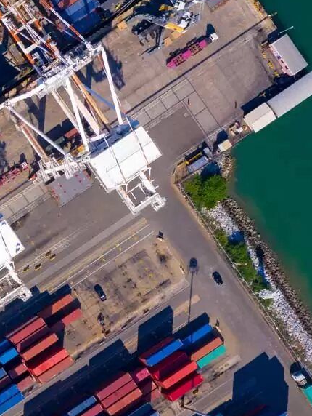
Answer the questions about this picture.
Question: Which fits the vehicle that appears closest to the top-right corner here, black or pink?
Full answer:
In this view, the vehicle that appears closest to the top-right corner is pink.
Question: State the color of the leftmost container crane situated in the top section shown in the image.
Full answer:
The color of the leftmost container crane situated in the top section is white.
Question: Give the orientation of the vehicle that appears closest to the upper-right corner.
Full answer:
I'd say the vehicle that appears closest to the upper-right corner is aligned on a diagonal in the picture.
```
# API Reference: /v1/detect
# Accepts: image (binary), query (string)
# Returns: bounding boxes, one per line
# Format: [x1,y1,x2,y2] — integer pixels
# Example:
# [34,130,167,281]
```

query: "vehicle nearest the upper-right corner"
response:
[168,34,214,69]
